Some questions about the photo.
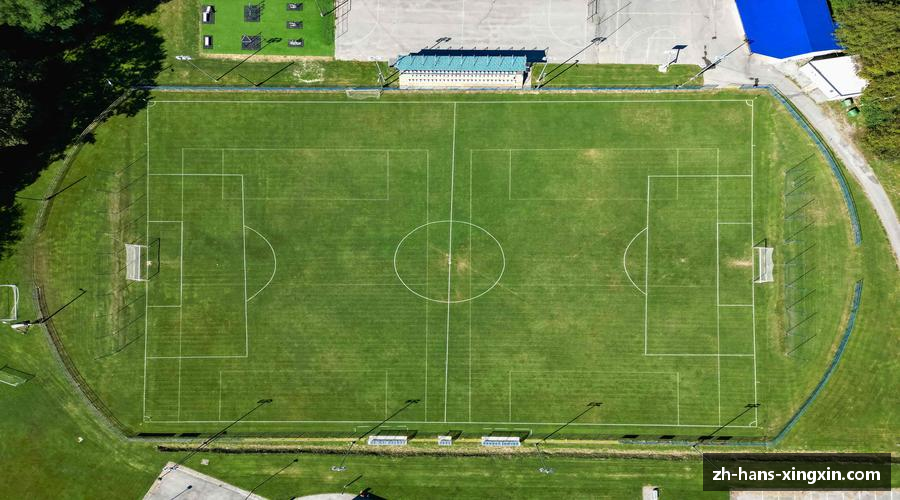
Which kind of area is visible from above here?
sports ground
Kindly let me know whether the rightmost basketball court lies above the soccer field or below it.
above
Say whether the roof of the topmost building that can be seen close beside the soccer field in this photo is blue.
Yes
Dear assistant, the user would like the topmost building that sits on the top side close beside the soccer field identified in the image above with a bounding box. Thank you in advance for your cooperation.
[730,0,843,63]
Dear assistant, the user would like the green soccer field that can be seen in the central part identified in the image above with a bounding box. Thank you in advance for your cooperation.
[144,100,759,434]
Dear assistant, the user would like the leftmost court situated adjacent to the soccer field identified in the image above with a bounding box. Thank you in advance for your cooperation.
[337,0,586,61]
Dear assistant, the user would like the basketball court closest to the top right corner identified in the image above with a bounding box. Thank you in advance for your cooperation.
[605,0,722,62]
